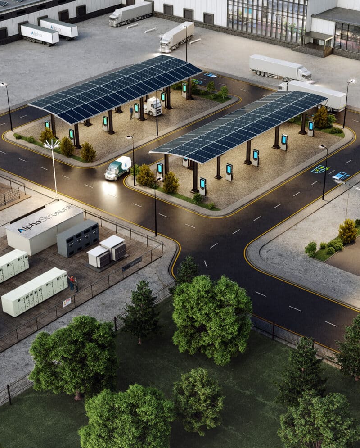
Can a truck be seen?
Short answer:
Yes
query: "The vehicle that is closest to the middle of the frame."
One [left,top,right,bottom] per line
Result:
[101,151,136,180]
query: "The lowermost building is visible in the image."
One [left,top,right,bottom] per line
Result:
[4,199,84,254]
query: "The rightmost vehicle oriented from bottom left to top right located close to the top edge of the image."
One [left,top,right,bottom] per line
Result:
[159,20,194,51]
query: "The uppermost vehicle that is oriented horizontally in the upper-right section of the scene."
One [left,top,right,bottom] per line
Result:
[248,53,312,82]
